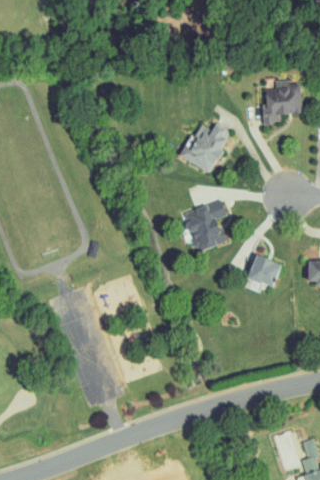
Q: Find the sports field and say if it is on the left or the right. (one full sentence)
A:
You can find the sports field on the left side of the picture.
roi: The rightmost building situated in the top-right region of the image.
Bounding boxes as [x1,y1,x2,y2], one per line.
[264,79,304,126]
